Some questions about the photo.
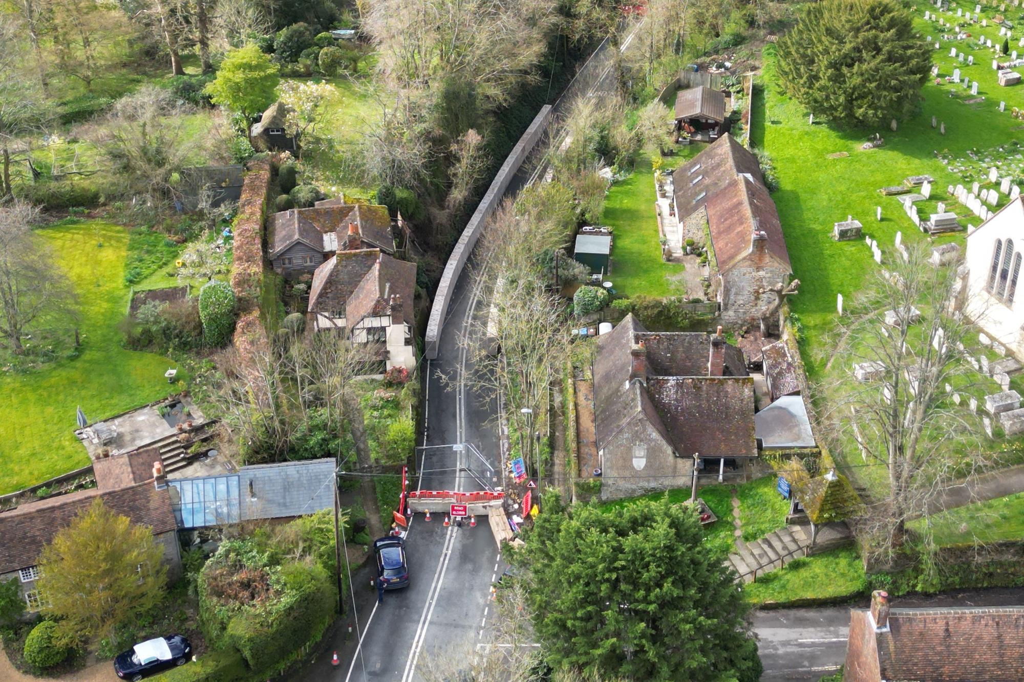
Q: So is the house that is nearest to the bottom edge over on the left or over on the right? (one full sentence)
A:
It is on the right.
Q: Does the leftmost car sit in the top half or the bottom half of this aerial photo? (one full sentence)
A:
The leftmost car sits in the bottom half of the picture.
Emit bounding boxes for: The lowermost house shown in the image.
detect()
[839,584,1024,682]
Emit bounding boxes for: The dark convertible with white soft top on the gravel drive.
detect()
[123,636,201,681]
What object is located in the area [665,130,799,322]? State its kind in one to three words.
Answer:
house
